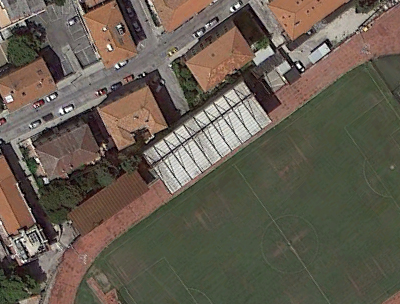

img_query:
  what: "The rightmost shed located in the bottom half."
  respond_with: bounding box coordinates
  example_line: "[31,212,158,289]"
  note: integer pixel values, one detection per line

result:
[68,170,149,235]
